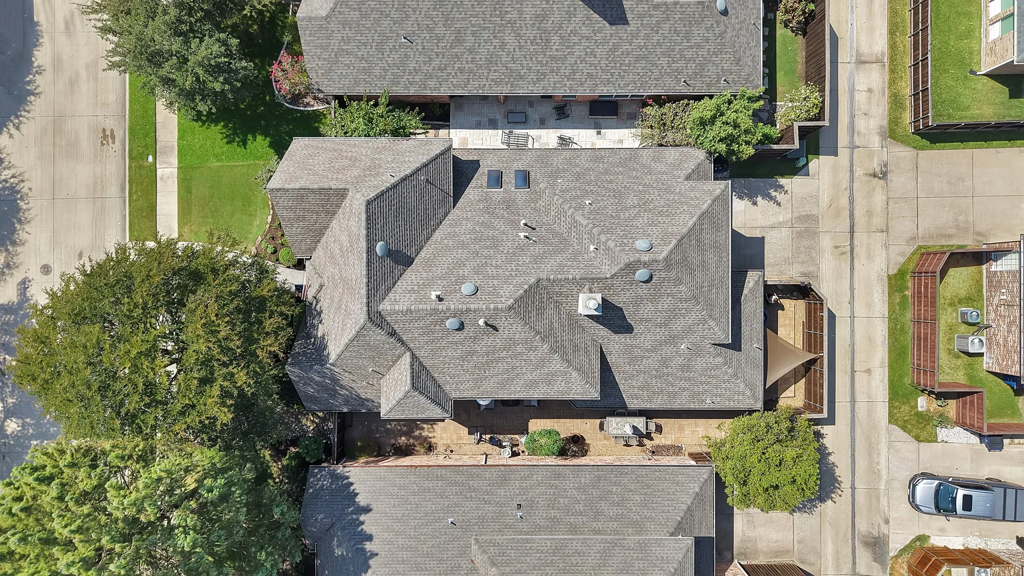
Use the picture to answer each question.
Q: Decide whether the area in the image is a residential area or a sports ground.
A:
residential area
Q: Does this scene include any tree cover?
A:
Yes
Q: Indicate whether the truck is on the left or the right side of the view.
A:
right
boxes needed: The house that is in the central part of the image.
[266,135,766,421]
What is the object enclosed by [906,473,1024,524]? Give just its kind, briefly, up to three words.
truck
